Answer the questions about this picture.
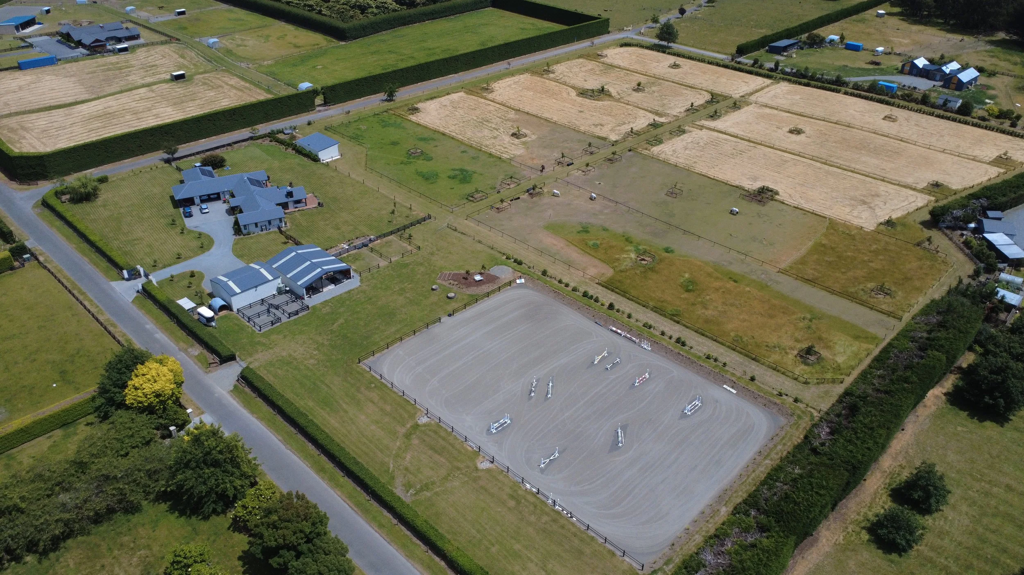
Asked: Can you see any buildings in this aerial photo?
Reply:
Yes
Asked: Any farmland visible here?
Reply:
Yes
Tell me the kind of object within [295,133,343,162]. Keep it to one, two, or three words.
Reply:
shed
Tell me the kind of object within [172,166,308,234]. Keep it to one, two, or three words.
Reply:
house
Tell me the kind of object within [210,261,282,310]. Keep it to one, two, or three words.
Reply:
shed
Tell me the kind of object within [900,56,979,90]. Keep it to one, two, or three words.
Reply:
house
